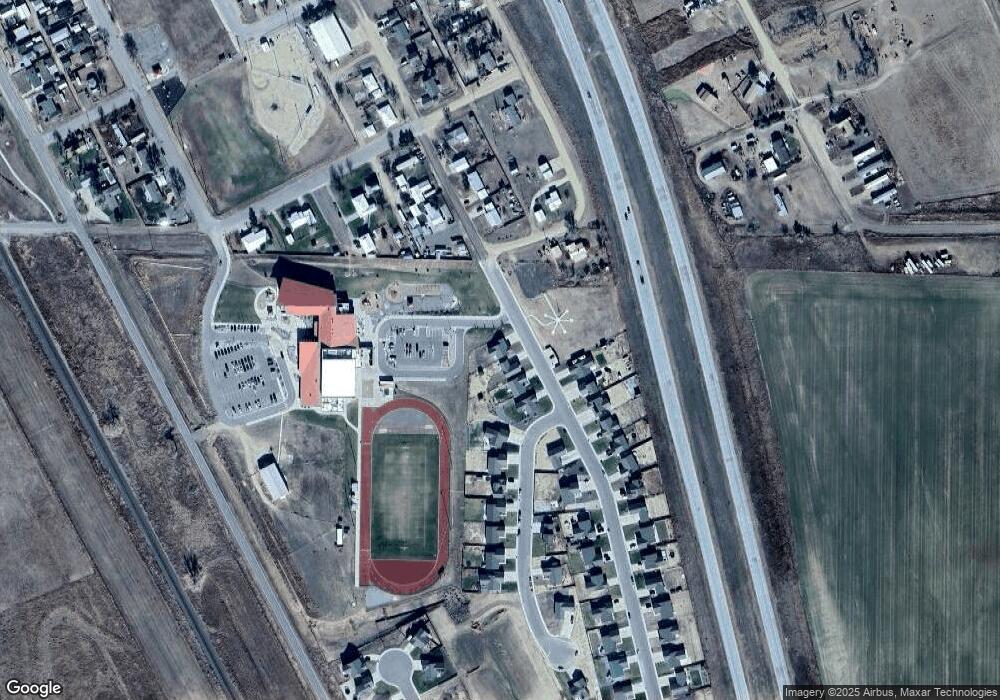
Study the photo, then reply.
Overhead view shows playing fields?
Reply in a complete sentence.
Yes, a playing field can be made out from above.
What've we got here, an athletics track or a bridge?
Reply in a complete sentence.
There is an athletics track in the scene.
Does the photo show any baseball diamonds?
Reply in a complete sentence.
Yes, the picture does show a baseball diamond.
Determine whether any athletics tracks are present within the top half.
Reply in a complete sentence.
No, there's no athletics track to be seen within the top half.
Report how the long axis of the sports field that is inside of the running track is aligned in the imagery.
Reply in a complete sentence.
Seen from above, the sports field that is inside of the running track lies from top to bottom.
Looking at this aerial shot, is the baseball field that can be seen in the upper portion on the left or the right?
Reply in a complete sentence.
The baseball field that can be seen in the upper portion is on the left side of the image.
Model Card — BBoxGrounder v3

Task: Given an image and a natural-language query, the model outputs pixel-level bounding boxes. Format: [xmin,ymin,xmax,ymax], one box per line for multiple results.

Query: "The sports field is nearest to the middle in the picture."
[373,432,438,561]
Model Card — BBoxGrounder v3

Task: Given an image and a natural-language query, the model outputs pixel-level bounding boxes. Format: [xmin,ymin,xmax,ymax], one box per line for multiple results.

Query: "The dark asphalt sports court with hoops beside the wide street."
[152,76,186,115]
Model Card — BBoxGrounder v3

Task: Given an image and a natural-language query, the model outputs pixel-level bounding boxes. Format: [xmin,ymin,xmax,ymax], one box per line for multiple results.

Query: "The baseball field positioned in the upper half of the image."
[247,25,325,154]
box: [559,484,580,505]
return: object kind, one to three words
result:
house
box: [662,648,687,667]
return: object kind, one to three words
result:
house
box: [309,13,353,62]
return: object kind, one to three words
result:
building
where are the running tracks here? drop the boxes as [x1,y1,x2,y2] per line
[361,397,449,596]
